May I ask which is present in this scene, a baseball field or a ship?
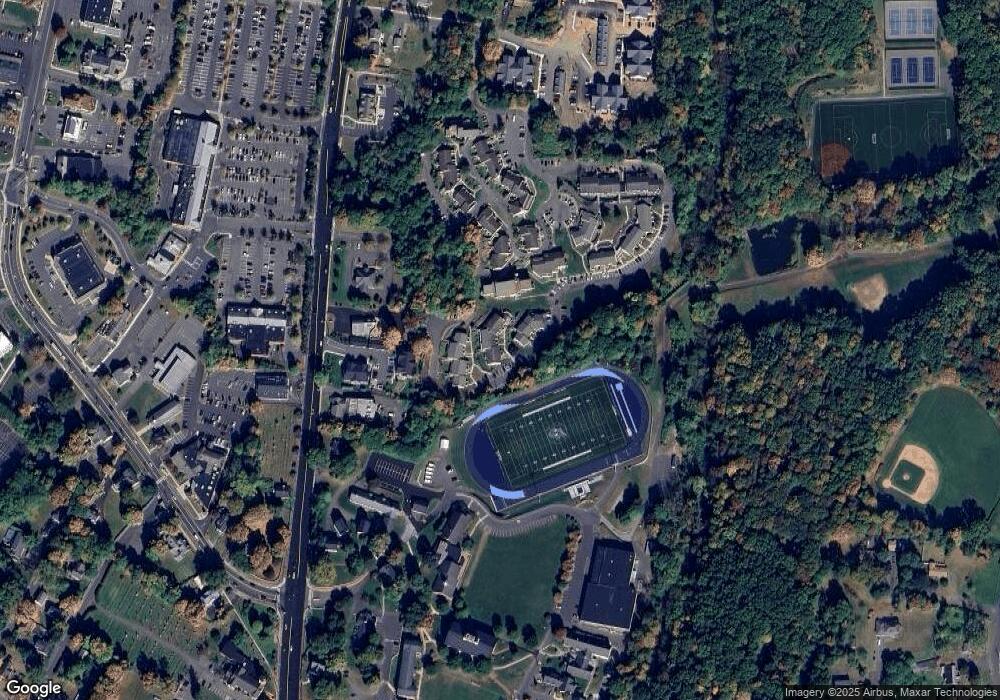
baseball field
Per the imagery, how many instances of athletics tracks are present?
1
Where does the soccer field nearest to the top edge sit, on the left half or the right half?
right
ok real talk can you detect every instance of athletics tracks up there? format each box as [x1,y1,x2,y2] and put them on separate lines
[465,363,660,511]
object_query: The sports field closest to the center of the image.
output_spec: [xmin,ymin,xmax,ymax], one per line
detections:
[486,377,627,486]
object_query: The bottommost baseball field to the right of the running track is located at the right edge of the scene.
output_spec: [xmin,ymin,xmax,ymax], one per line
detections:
[880,387,1000,516]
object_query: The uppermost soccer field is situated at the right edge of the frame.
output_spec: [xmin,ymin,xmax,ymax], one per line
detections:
[813,97,957,184]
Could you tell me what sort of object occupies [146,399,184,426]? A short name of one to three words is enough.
shed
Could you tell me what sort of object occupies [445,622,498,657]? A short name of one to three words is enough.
building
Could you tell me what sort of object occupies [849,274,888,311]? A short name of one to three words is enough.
baseball field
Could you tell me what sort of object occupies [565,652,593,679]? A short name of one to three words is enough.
house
